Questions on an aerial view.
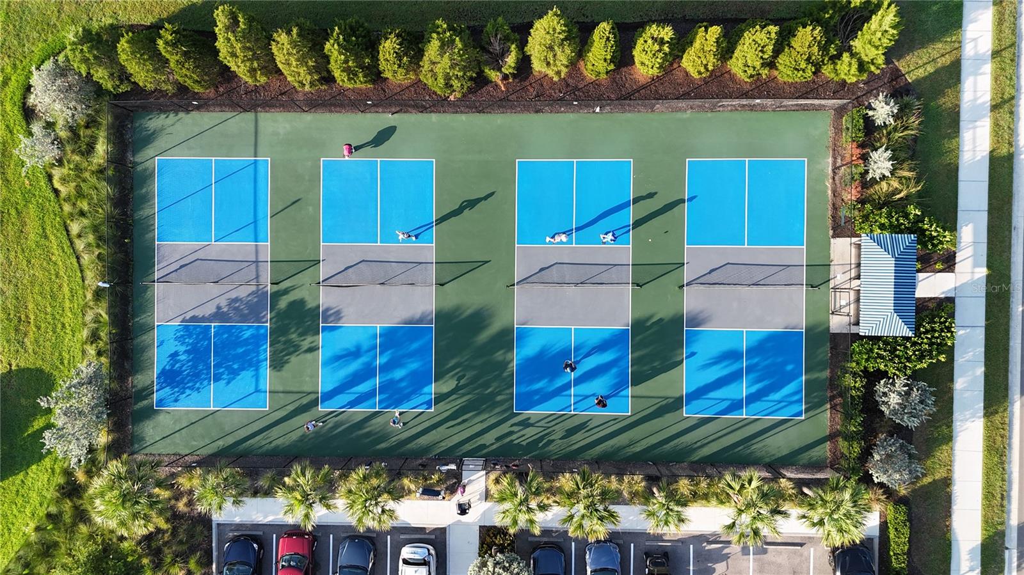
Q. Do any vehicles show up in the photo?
Yes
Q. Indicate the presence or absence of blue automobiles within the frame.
Yes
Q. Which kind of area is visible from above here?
sports ground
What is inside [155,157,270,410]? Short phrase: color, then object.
blue sports court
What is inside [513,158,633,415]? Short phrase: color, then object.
blue sports court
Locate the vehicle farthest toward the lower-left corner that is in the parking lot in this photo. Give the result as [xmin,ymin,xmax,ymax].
[215,534,262,575]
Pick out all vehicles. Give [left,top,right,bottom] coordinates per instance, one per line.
[332,534,378,575]
[578,539,619,575]
[530,542,567,575]
[400,542,439,575]
[824,544,870,575]
[642,549,670,575]
[272,528,319,575]
[215,534,262,575]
